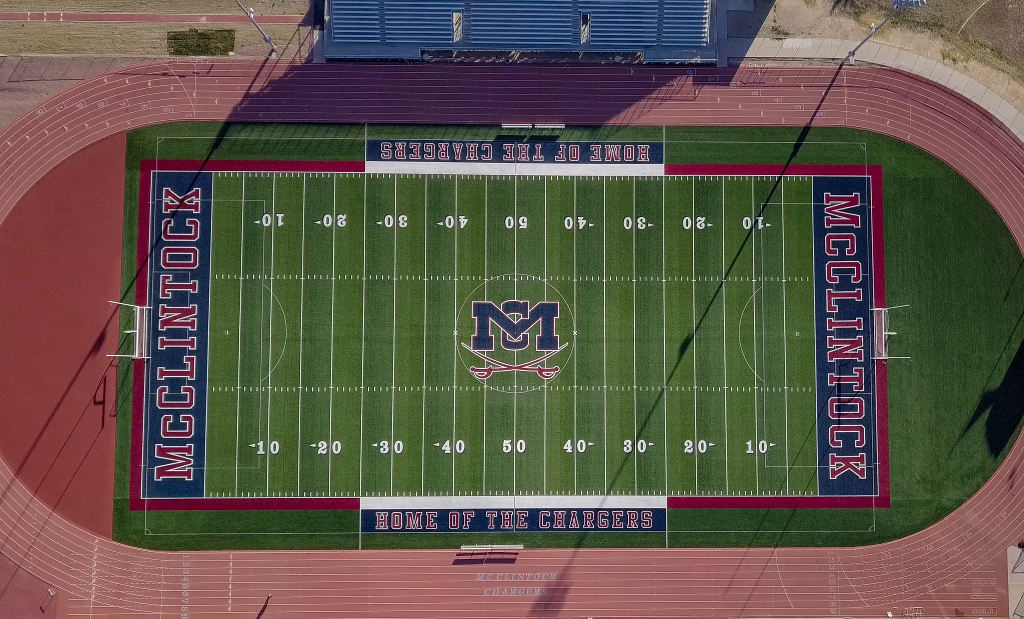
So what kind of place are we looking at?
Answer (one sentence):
The area seen from above is a sports ground.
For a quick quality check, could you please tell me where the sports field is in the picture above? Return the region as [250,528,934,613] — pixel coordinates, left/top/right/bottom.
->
[112,121,1024,550]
